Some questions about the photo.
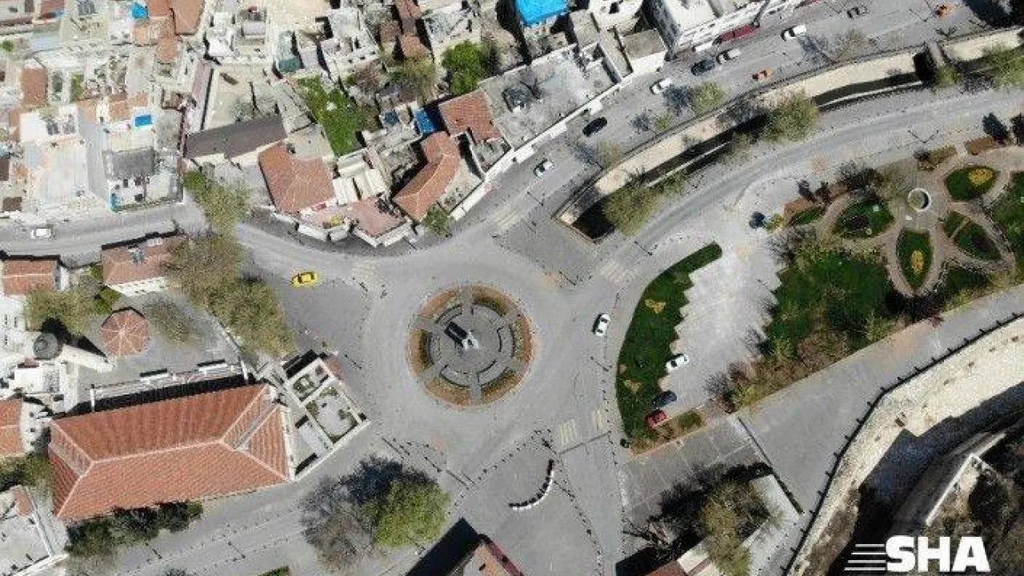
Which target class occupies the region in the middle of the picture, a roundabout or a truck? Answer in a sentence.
It is a roundabout that can be seen in the middle of the picture.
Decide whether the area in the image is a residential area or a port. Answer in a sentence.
What you see here is a residential area.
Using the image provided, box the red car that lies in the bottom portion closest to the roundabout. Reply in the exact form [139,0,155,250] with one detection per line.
[646,410,669,427]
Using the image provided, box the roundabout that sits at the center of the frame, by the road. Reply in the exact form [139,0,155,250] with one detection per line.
[408,284,534,409]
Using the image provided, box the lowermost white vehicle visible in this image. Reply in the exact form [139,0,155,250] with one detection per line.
[666,353,691,371]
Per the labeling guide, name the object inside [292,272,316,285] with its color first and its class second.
yellow vehicle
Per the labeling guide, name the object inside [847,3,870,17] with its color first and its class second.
gray car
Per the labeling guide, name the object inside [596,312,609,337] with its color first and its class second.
white vehicle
